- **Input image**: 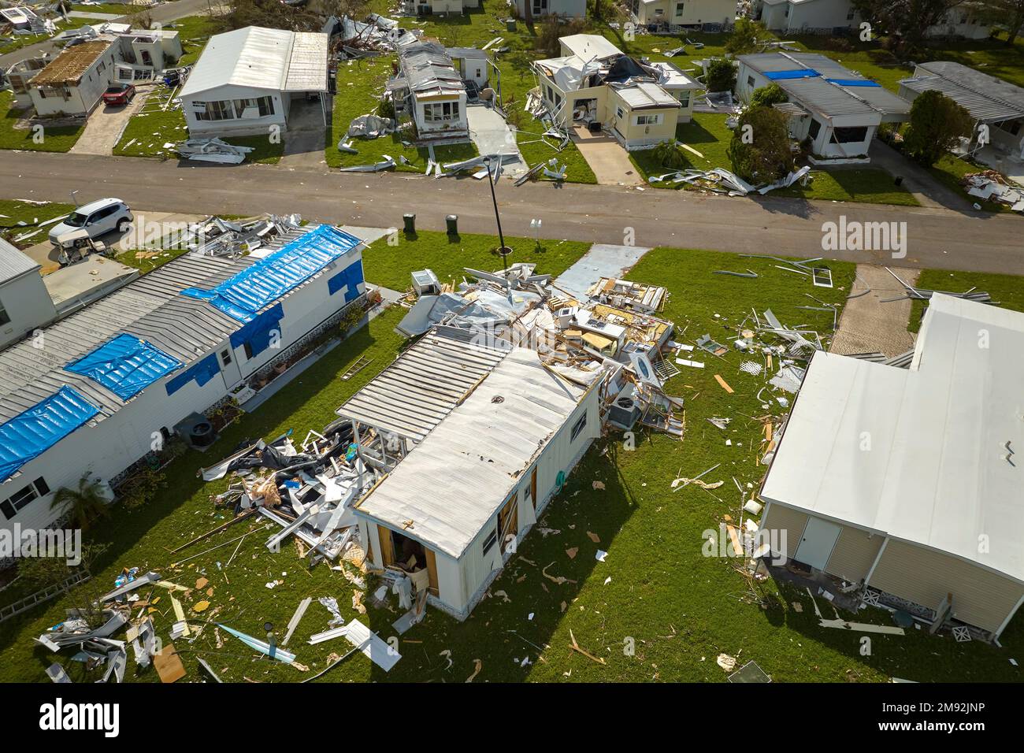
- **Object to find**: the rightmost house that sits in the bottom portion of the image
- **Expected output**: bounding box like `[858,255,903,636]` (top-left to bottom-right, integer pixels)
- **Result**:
[752,296,1024,664]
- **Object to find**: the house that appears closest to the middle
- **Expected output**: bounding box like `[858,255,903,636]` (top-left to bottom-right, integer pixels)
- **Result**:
[332,316,604,620]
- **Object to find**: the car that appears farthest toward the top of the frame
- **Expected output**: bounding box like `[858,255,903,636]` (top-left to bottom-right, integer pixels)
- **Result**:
[103,81,137,103]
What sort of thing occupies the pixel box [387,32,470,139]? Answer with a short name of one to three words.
house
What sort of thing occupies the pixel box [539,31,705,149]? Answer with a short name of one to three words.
house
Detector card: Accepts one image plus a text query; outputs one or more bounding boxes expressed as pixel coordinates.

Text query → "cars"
[103,81,137,103]
[45,199,132,255]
